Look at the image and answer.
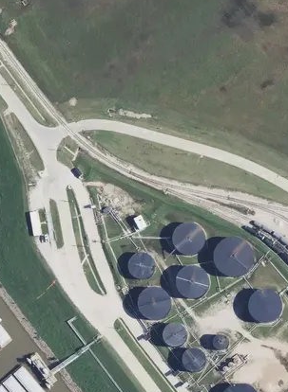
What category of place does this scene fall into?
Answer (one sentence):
The area seen from above is an industrial area.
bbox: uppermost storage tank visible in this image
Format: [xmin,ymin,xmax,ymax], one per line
[171,221,207,257]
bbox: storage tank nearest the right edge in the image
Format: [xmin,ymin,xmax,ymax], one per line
[248,288,284,323]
